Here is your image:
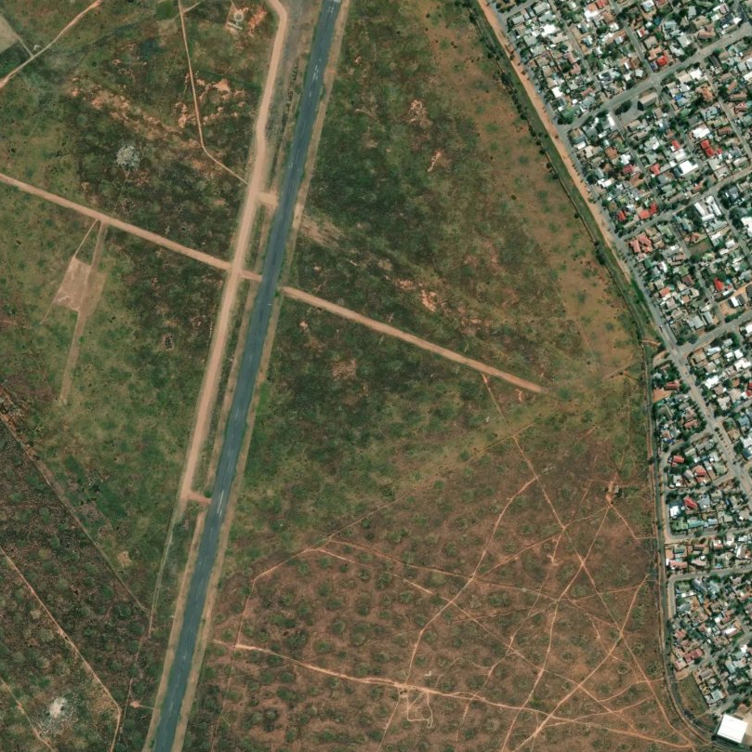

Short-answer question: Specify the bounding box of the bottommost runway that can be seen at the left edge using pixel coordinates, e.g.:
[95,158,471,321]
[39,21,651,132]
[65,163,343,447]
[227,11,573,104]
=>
[10,177,231,272]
